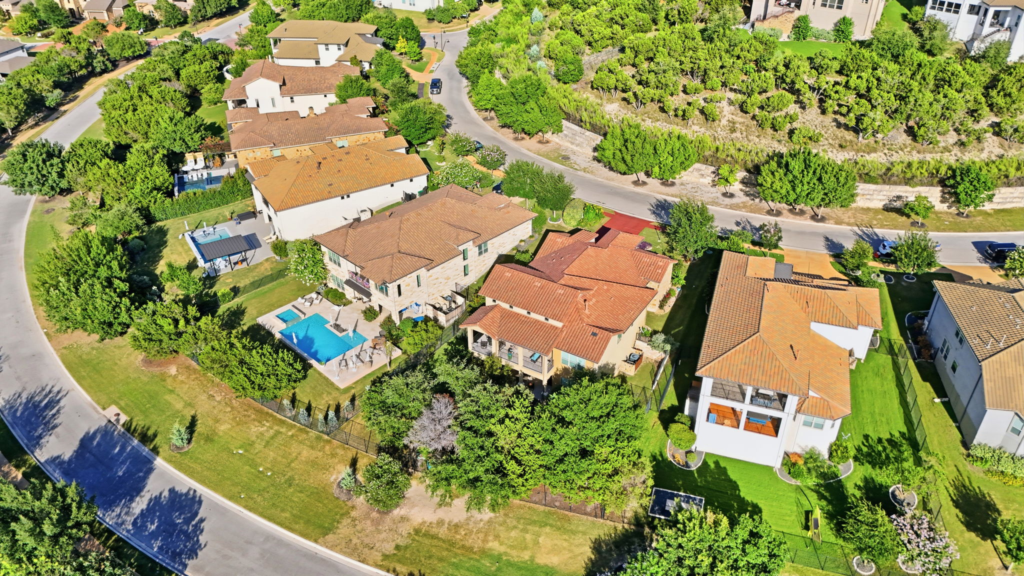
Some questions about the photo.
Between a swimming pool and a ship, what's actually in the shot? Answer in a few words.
swimming pool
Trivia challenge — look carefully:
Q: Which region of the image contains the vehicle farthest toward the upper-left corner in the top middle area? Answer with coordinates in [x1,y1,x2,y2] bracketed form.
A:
[429,79,443,93]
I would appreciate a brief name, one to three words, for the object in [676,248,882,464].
house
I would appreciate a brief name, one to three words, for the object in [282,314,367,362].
swimming pool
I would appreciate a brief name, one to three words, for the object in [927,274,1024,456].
house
